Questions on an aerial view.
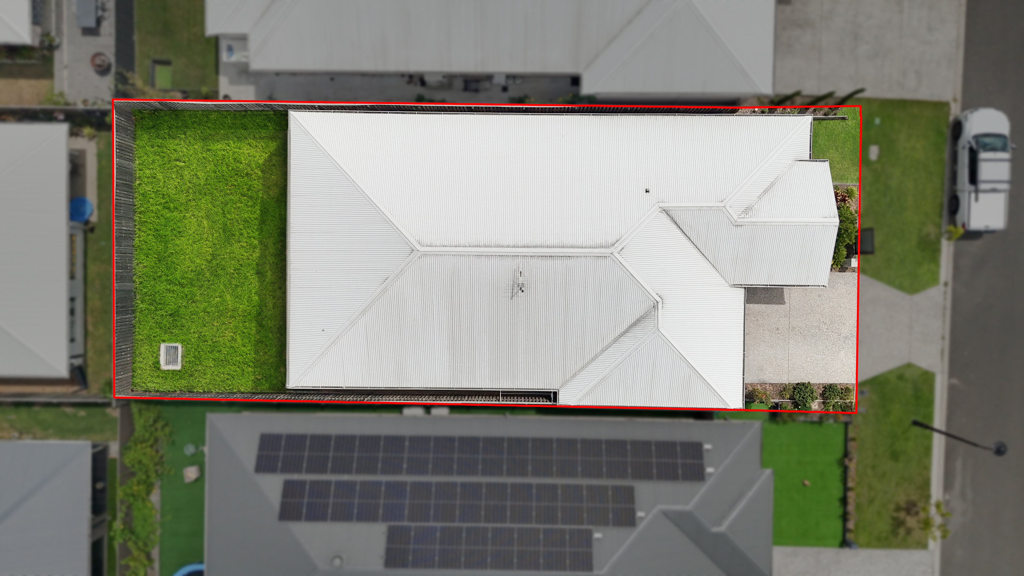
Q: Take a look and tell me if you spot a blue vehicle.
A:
No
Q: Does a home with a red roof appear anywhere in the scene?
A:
No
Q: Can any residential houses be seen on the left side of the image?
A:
Yes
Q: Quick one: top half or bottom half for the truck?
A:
top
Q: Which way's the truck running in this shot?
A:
from top to bottom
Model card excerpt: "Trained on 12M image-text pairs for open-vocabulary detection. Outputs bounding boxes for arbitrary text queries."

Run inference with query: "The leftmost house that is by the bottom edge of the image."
[0,437,115,576]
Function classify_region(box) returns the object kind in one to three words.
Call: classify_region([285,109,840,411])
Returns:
house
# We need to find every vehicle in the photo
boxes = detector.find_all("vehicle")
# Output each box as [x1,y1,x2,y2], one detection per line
[947,108,1013,235]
